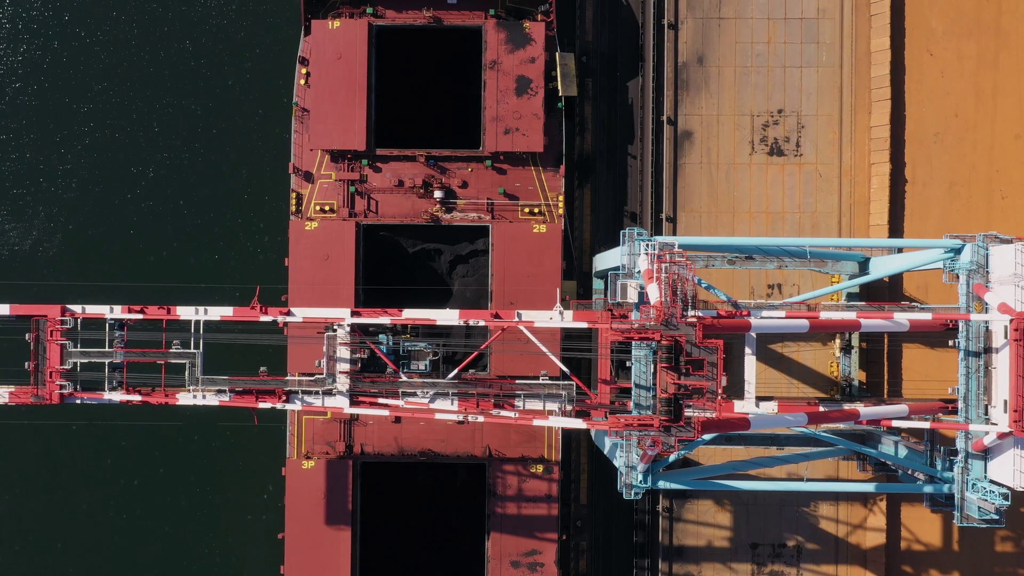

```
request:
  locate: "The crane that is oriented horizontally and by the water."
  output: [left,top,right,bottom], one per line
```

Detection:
[0,226,1024,526]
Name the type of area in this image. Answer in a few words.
port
